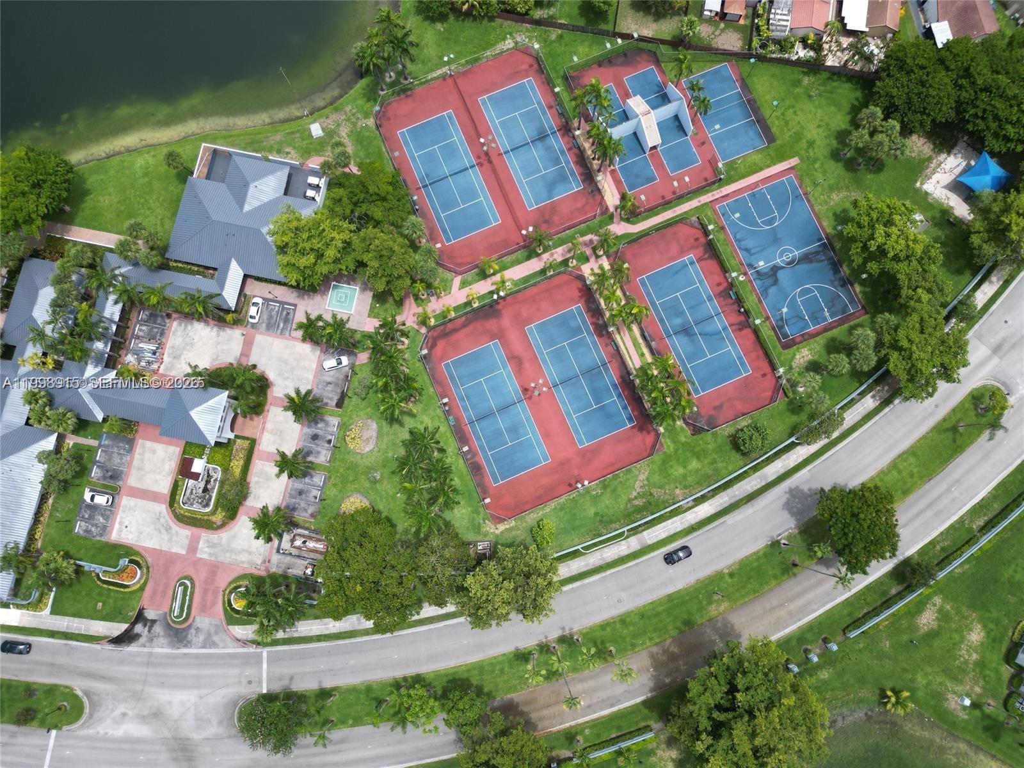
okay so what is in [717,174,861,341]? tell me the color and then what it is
blue basketball court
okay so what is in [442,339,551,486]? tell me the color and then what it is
blue tennis court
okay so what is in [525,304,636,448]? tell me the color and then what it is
blue tennis court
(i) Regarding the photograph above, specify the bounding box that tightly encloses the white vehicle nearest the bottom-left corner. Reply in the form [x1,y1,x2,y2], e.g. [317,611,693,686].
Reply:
[86,491,112,505]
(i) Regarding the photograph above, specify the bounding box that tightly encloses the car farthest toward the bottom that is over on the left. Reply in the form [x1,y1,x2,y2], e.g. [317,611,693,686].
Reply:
[2,639,30,654]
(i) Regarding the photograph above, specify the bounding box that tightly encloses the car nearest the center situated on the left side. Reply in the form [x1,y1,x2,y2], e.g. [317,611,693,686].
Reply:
[322,356,349,371]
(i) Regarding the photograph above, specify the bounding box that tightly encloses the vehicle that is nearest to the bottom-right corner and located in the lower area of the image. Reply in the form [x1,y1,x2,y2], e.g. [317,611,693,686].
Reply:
[663,545,692,564]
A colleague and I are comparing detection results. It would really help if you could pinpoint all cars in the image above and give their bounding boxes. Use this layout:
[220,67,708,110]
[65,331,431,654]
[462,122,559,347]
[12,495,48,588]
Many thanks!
[663,545,692,564]
[249,299,264,324]
[2,639,30,654]
[322,356,349,371]
[86,491,112,505]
